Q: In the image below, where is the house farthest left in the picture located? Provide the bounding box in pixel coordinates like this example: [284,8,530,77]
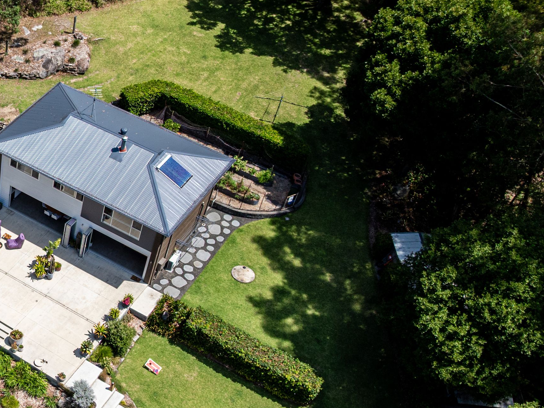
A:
[0,81,237,285]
